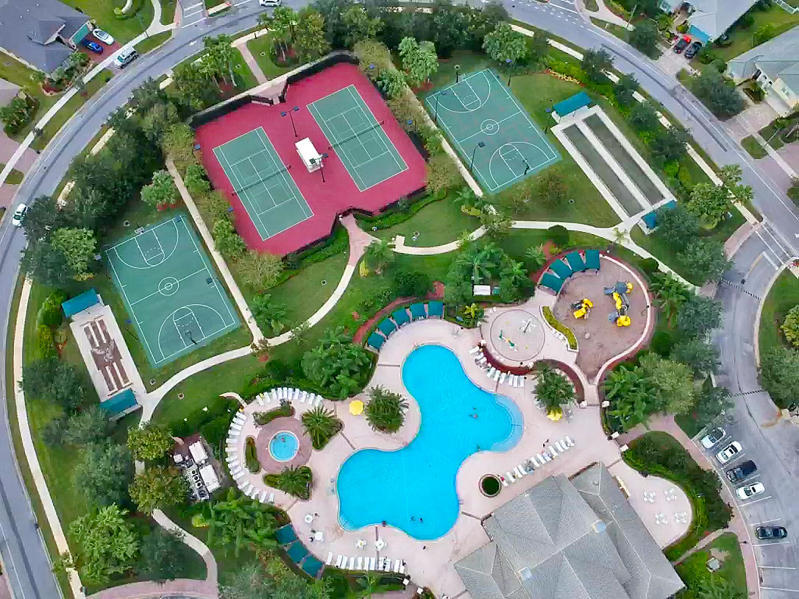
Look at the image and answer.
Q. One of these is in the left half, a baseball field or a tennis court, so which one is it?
tennis court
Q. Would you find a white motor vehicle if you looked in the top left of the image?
Yes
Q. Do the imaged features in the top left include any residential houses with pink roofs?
No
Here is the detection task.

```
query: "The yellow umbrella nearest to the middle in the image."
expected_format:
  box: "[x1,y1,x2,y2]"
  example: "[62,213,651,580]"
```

[348,399,364,415]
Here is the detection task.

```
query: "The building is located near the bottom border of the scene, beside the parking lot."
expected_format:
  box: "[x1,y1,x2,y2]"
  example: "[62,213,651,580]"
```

[454,463,686,599]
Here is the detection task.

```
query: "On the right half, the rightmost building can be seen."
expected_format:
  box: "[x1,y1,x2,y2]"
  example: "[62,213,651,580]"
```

[725,25,799,108]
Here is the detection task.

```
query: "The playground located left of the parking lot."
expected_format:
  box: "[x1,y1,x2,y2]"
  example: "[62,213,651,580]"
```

[543,253,652,382]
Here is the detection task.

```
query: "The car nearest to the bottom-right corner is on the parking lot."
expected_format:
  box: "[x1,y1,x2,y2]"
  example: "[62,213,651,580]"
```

[758,525,790,539]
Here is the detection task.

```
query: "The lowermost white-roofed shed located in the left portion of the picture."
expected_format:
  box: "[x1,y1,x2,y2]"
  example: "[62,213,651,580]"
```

[201,465,222,492]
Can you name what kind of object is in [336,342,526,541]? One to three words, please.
swimming pool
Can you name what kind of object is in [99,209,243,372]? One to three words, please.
basketball court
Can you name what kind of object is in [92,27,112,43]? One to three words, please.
car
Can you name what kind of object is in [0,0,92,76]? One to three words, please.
house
